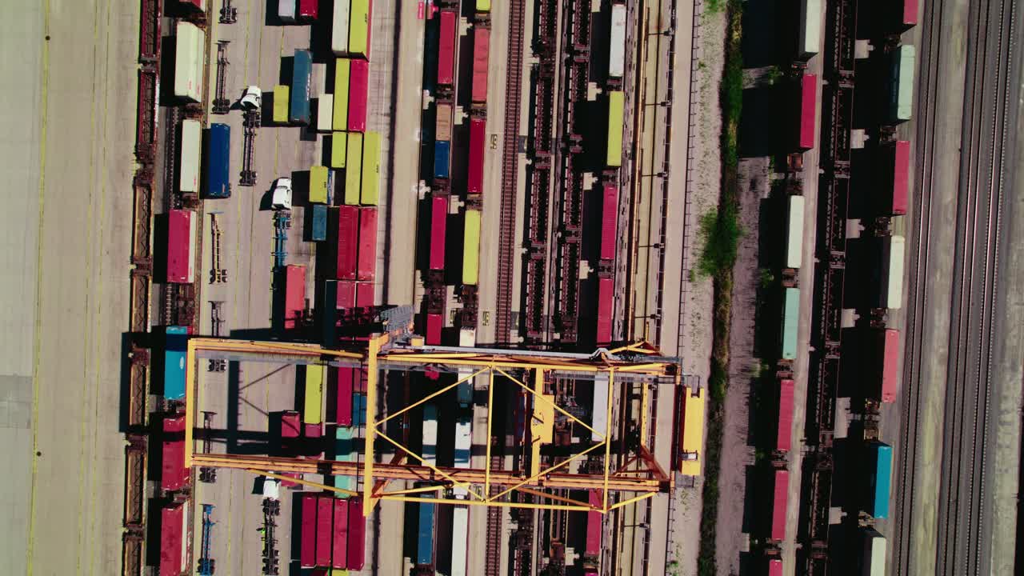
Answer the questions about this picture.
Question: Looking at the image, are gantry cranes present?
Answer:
Yes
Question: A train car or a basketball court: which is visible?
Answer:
train car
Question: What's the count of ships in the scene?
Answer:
zero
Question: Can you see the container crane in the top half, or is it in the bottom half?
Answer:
bottom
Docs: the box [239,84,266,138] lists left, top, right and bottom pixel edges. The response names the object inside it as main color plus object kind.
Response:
white truck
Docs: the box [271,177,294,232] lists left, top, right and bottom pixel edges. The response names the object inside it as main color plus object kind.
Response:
white truck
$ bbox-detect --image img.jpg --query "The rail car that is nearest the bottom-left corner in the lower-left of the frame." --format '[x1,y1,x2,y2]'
[122,528,145,576]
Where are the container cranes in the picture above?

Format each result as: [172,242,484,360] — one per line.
[182,302,705,514]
